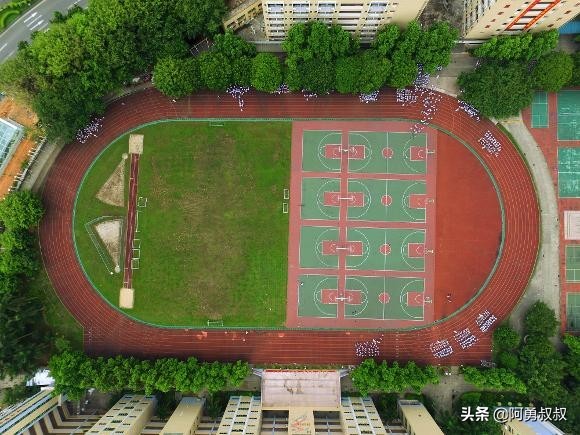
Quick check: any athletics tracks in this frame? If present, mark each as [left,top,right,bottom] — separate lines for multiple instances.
[37,84,540,371]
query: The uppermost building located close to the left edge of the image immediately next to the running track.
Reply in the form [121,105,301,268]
[0,115,32,186]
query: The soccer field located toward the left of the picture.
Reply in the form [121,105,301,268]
[75,122,290,328]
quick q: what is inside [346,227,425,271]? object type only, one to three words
basketball court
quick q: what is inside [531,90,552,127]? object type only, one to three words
sports court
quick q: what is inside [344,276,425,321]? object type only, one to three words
basketball court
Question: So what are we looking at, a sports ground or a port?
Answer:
sports ground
